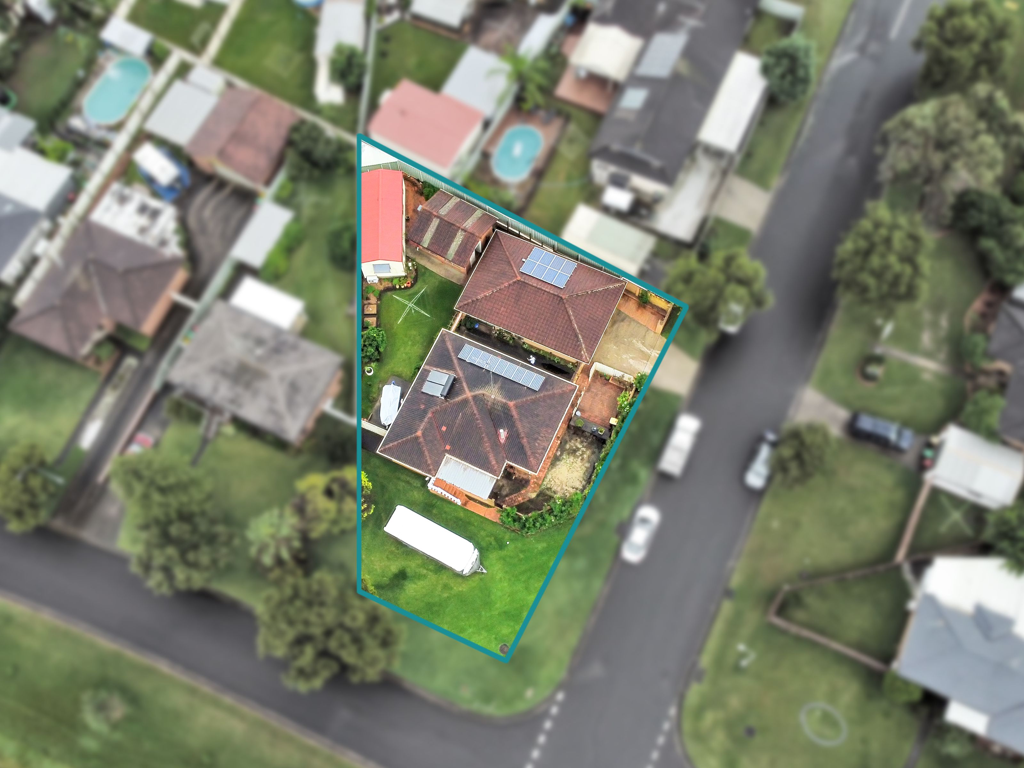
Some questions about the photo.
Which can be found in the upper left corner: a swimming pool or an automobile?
swimming pool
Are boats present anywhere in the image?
Yes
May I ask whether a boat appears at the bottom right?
No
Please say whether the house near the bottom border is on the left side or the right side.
right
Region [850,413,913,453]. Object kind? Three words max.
car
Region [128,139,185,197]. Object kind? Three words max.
boat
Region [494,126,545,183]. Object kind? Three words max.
swimming pool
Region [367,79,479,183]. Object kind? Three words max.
shed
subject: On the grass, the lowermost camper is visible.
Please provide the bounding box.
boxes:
[385,507,487,573]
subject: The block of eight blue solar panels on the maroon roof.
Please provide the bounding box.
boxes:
[520,248,577,289]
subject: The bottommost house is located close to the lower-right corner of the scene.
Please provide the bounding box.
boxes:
[888,588,1024,759]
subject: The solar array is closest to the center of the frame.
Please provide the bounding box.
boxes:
[458,344,545,391]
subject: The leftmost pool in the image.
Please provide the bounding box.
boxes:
[84,60,155,122]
